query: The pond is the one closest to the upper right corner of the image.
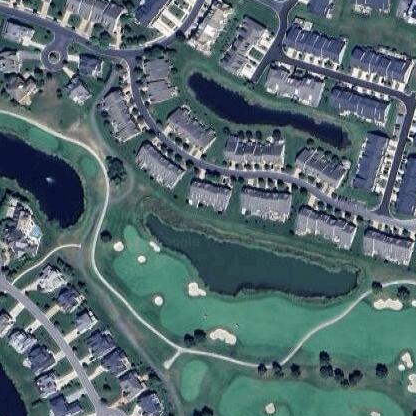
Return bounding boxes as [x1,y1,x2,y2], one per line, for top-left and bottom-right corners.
[187,71,353,147]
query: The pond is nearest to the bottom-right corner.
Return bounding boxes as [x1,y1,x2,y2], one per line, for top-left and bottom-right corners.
[146,216,360,299]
